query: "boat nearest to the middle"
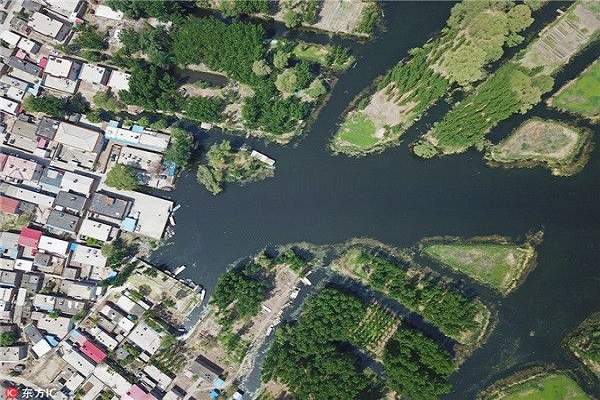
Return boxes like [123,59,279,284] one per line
[252,150,275,166]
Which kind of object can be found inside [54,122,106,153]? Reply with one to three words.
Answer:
building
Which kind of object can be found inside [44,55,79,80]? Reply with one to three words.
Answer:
house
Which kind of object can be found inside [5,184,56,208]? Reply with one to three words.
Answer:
house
